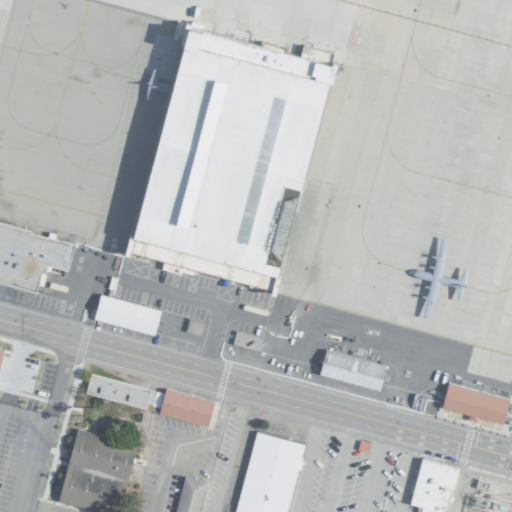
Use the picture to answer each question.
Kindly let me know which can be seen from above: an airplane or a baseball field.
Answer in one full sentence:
I can see an airplane in this picture.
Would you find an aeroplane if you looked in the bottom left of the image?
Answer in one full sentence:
No, no aeroplane can be made out in the bottom left of the image.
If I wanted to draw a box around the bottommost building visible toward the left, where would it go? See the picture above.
[176,477,208,512]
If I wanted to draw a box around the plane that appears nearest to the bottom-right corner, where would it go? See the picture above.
[414,239,468,319]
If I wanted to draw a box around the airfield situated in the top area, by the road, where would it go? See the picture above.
[0,0,512,382]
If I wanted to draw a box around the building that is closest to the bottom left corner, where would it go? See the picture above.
[60,429,137,512]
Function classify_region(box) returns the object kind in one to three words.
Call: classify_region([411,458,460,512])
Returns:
building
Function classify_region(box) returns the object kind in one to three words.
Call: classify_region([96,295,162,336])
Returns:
building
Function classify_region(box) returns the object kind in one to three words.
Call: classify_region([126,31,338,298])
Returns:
hangar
